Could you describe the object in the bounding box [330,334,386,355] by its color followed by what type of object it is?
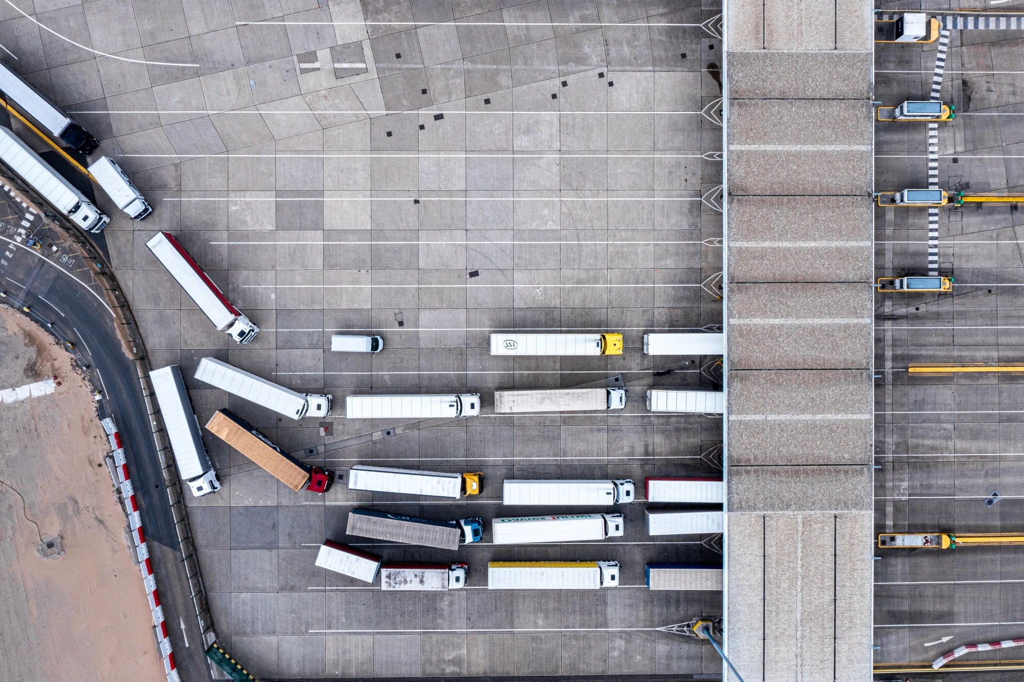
white vehicle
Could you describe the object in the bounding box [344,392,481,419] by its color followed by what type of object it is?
white truck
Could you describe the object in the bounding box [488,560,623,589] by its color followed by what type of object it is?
white truck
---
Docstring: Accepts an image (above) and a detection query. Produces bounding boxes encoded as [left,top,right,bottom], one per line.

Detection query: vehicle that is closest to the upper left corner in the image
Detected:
[0,59,98,155]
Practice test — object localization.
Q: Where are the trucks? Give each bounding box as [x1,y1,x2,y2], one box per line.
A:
[488,560,623,589]
[0,59,98,155]
[644,476,723,502]
[205,408,335,494]
[489,333,624,357]
[146,232,260,345]
[344,392,481,419]
[194,357,331,420]
[0,125,110,232]
[502,479,637,505]
[315,539,471,591]
[492,513,627,545]
[347,508,485,550]
[348,465,485,500]
[645,561,723,590]
[644,334,723,355]
[150,366,221,502]
[645,506,723,536]
[647,389,723,413]
[87,155,158,227]
[495,386,630,413]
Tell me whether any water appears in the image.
No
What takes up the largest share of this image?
paved ground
